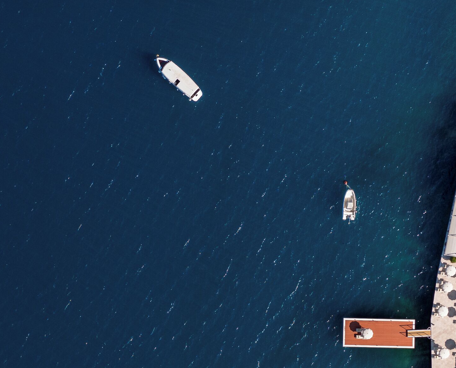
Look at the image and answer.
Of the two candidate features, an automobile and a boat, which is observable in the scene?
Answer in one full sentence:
The image shows a boat.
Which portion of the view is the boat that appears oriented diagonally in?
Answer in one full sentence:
You can find the boat that appears oriented diagonally in the top area of the picture.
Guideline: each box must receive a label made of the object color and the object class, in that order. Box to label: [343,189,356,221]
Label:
white boat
